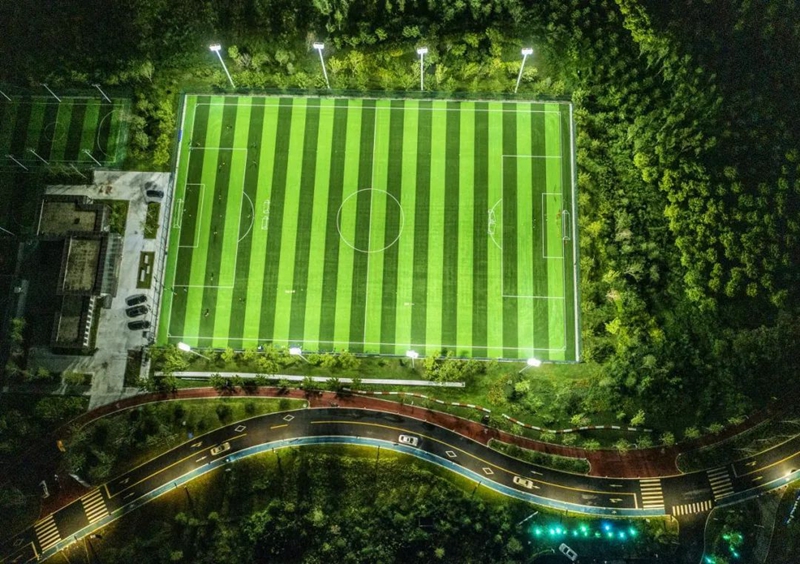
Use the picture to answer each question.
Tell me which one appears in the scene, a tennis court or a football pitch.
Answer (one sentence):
The one in the frame is a football pitch.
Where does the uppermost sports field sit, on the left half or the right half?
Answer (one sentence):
It is on the left.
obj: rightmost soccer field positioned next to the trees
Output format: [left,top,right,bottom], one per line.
[156,94,580,361]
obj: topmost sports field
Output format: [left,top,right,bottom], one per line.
[0,94,134,170]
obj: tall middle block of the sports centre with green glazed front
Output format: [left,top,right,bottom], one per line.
[56,234,121,312]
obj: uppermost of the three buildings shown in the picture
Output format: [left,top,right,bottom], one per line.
[34,195,109,243]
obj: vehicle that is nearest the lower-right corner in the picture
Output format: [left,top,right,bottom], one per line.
[559,543,579,561]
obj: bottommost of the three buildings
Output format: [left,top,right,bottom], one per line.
[51,298,97,350]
